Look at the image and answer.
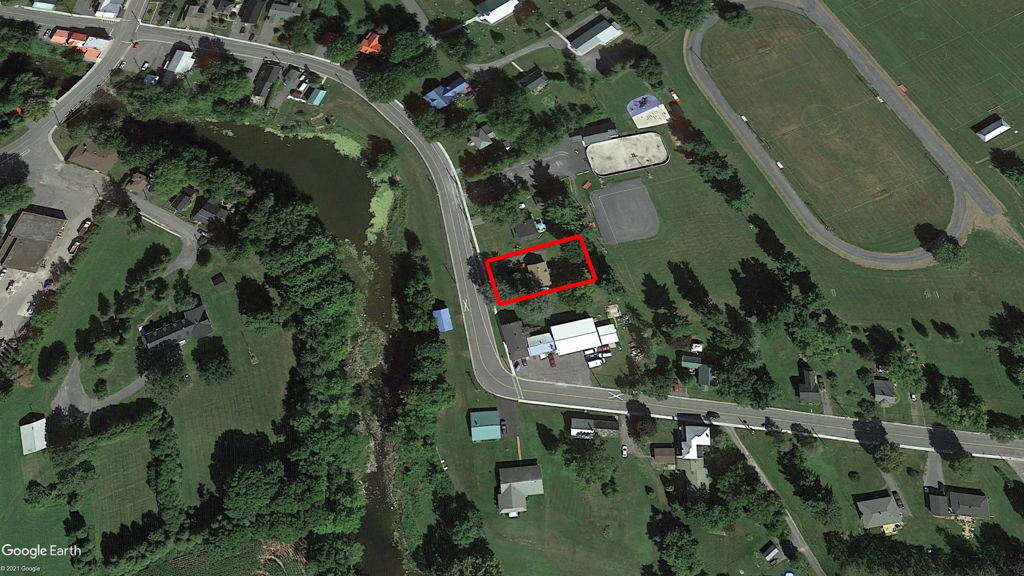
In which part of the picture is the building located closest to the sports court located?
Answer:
top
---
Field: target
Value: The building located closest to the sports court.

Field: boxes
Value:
[570,124,619,146]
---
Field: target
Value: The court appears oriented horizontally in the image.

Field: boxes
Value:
[586,133,668,175]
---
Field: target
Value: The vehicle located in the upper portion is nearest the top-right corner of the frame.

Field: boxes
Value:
[669,86,681,104]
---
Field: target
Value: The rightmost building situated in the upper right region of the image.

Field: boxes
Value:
[977,118,1008,143]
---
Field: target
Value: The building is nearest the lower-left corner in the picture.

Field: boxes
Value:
[20,419,49,452]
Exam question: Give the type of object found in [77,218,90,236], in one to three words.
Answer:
vehicle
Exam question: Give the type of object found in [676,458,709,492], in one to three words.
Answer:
barn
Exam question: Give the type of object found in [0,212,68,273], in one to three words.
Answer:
building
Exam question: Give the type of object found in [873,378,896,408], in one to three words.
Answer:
house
